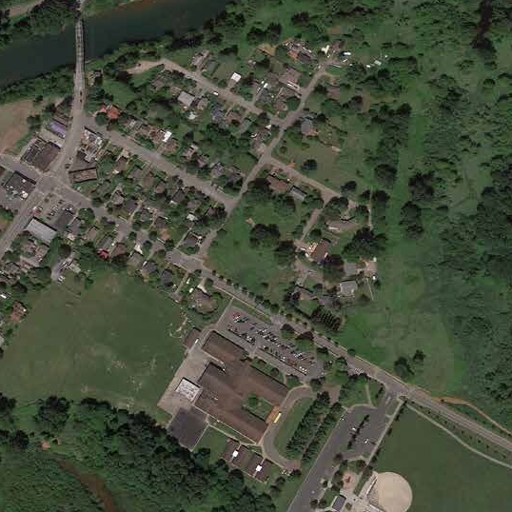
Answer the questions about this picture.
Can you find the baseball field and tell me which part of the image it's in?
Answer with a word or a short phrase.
bottom right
